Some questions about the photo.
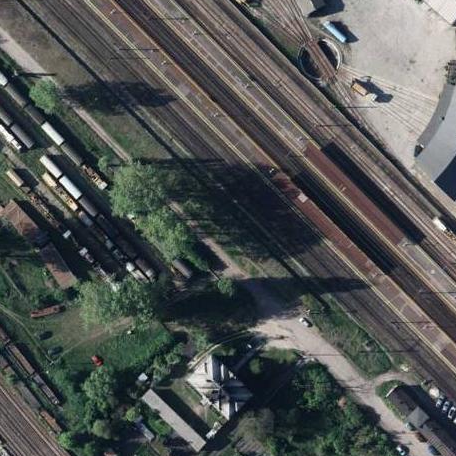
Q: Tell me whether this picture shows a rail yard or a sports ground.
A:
rail yard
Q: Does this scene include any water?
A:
No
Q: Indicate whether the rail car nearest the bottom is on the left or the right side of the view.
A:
left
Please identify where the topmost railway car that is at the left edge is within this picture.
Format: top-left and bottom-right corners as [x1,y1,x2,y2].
[5,84,30,109]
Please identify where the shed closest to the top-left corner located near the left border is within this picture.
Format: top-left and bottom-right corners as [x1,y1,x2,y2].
[1,200,41,239]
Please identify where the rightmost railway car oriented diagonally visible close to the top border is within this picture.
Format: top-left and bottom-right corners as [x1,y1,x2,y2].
[323,22,348,44]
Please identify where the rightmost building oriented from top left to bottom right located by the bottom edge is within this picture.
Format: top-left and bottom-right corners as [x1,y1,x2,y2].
[386,384,456,456]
